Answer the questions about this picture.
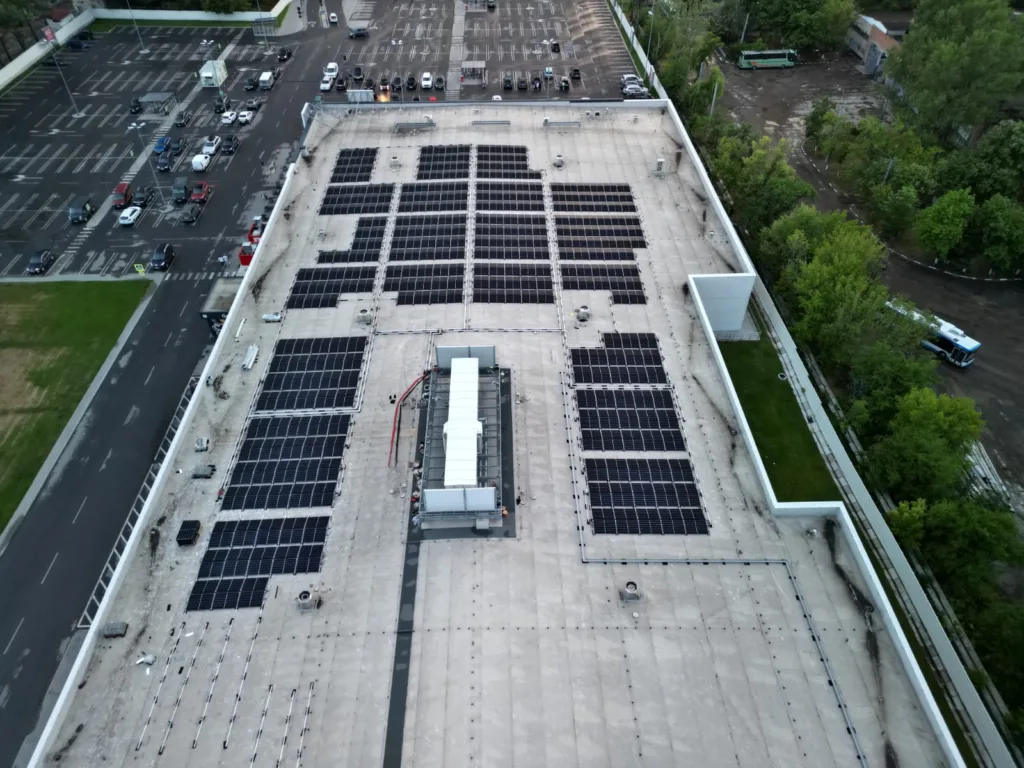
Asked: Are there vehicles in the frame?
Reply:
Yes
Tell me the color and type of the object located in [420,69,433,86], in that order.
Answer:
white vehicle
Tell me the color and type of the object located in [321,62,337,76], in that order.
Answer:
white car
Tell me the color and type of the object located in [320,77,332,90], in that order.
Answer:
white vehicle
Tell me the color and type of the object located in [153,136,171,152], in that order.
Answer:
blue car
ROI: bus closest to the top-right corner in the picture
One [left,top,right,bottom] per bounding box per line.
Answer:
[738,46,801,67]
